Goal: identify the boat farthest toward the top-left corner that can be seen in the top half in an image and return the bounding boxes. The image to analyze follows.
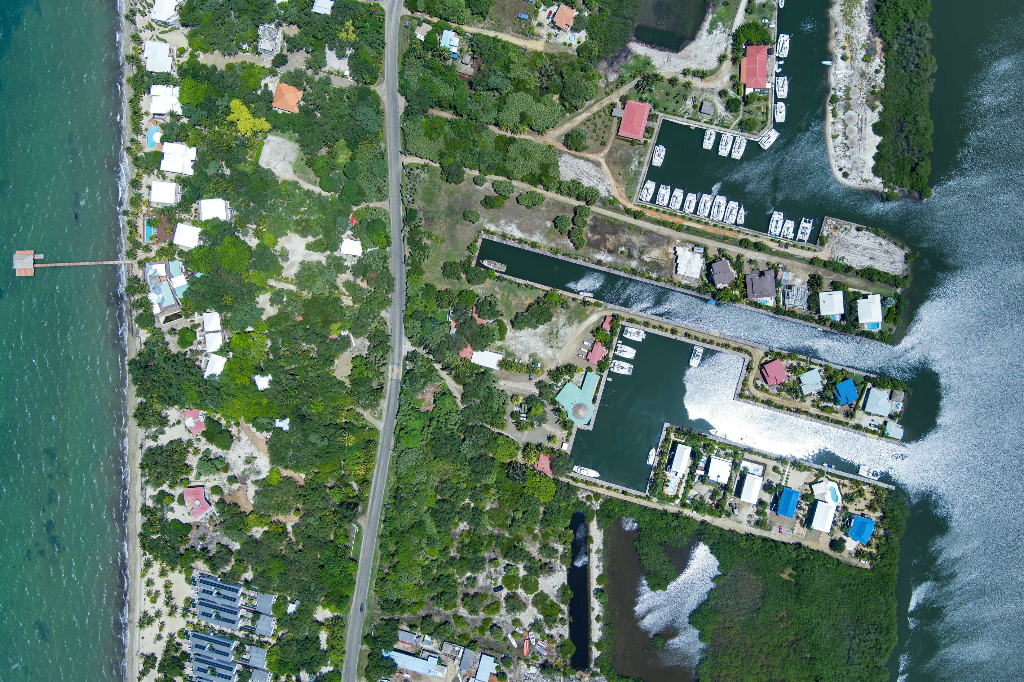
[479,260,508,273]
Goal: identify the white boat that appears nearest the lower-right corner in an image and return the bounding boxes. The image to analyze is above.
[857,467,881,481]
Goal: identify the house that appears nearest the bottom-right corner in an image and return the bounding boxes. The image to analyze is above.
[844,514,875,545]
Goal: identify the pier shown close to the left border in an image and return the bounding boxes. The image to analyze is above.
[16,250,136,276]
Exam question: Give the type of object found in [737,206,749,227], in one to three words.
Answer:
boat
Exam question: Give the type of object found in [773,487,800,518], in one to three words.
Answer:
house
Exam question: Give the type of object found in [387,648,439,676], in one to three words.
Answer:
building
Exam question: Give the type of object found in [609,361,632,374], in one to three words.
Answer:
boat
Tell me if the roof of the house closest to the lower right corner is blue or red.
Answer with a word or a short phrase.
blue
